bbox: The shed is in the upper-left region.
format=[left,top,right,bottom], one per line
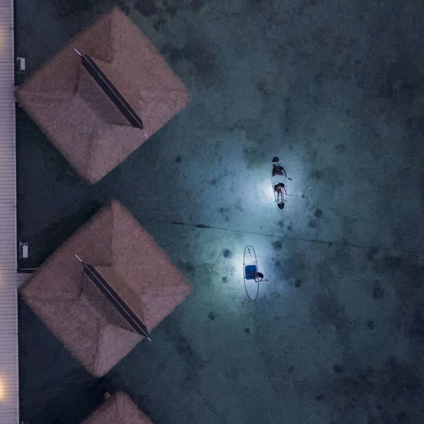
[14,6,191,182]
